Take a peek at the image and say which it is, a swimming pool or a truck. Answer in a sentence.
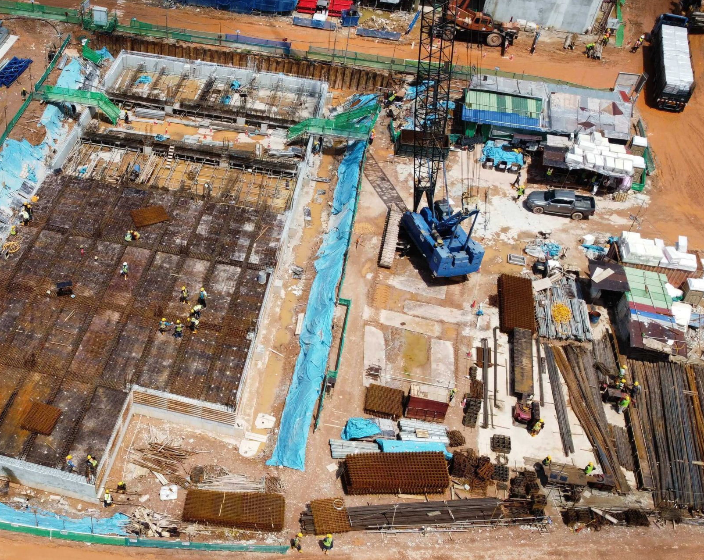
Looking from above, you can make out a truck.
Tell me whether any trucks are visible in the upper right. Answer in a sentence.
Yes, you'll find a truck in the upper right.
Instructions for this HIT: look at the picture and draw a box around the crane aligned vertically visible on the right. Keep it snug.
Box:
[375,0,482,285]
